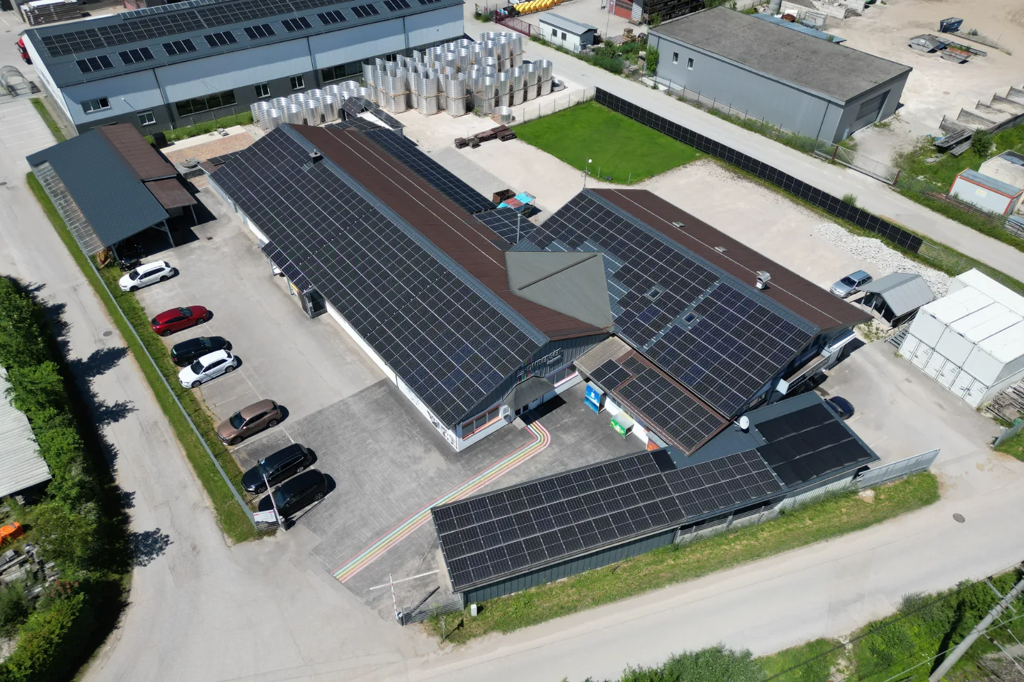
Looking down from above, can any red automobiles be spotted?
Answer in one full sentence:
Yes, you can see a red automobile in this photo.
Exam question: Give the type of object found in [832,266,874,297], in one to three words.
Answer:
car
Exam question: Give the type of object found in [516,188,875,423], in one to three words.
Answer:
building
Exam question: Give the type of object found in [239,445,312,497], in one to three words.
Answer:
car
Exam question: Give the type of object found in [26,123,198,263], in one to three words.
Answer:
shed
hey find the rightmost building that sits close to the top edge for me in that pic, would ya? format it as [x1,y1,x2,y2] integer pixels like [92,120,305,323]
[646,6,917,147]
